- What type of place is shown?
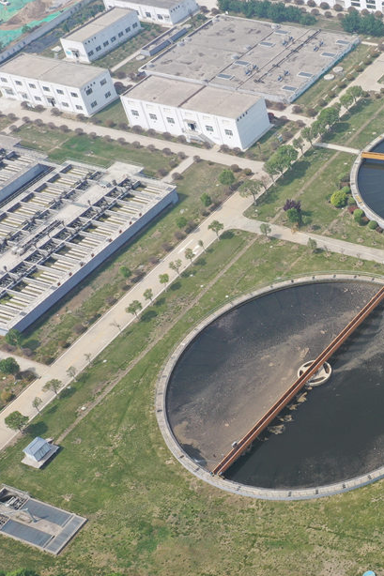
industrial area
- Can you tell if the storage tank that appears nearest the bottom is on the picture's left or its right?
right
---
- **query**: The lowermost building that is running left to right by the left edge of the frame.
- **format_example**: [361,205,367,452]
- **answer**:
[0,50,121,115]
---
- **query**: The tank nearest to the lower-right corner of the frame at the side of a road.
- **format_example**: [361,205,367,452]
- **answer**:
[155,271,384,500]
